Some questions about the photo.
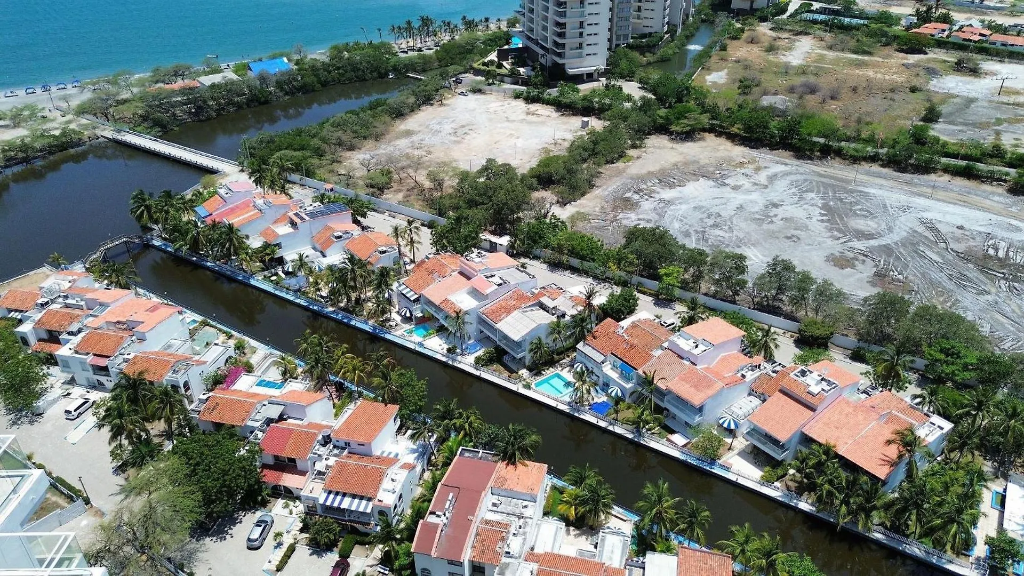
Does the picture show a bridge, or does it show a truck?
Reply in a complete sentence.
Visible in the photo is a bridge.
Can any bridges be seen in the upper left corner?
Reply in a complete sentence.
Yes, a bridge shows up in the upper left corner.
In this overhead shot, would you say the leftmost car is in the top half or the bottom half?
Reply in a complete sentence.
It is in the bottom half that the leftmost car appears.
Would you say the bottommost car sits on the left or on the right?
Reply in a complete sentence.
The bottommost car sits on the left side.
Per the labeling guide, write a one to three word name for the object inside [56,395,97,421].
car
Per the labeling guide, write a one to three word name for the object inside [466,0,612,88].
building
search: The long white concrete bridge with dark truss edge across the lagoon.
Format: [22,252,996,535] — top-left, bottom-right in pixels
[101,123,252,176]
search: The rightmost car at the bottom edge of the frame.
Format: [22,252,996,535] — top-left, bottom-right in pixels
[324,553,354,576]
